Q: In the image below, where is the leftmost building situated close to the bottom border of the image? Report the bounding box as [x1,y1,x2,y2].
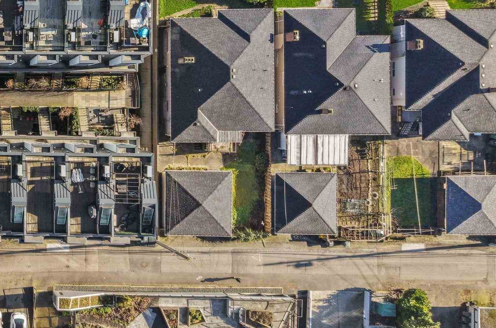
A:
[370,300,394,316]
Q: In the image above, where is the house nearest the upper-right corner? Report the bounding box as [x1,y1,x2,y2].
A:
[375,9,496,141]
